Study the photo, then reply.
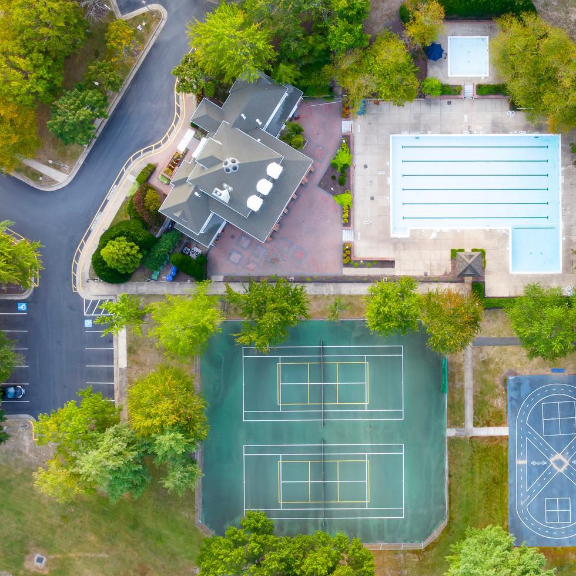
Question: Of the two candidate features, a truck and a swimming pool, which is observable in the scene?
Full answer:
Looking from above, you can make out a swimming pool.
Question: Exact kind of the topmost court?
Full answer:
The topmost court in the image is a tennis court.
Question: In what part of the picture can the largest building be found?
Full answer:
The largest building is in the top part of the image.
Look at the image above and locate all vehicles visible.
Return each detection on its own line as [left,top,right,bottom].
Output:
[0,384,26,401]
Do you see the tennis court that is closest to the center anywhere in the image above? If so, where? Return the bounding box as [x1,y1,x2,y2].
[242,340,404,428]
